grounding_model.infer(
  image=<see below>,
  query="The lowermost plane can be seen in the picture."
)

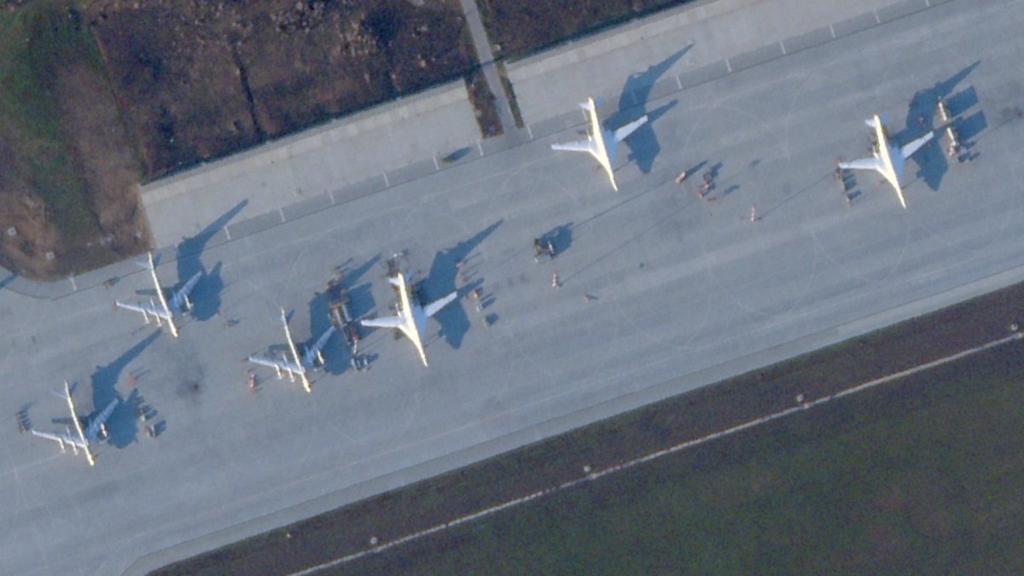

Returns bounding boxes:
[34,383,120,464]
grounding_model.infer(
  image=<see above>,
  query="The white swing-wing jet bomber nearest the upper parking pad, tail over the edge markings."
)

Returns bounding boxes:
[552,101,647,190]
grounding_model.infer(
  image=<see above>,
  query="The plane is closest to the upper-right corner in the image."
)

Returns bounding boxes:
[838,117,933,206]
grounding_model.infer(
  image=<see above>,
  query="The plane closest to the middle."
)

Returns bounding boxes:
[361,275,458,366]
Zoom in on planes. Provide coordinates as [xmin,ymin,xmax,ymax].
[838,117,933,206]
[361,275,458,366]
[118,255,204,337]
[34,383,120,464]
[250,311,336,390]
[552,101,647,190]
